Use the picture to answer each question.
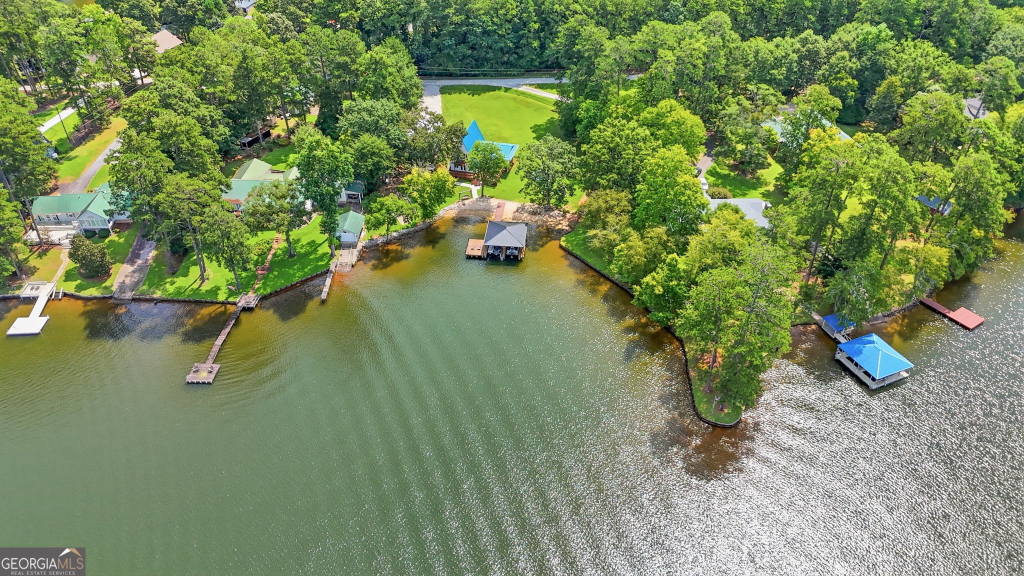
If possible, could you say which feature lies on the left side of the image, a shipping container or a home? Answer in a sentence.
The feature located on the left side of the image is a home.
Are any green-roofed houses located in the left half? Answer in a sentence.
Yes, a green-roofed house shows up in the left half.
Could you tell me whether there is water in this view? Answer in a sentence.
Yes, some water is visible.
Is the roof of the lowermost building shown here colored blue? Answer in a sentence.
Yes, the roof of the lowermost building is indeed blue.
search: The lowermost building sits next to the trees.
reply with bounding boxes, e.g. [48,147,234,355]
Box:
[833,333,917,390]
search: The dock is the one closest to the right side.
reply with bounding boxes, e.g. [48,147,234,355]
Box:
[920,298,984,332]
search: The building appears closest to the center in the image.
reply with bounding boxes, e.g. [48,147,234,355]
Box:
[465,221,527,262]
